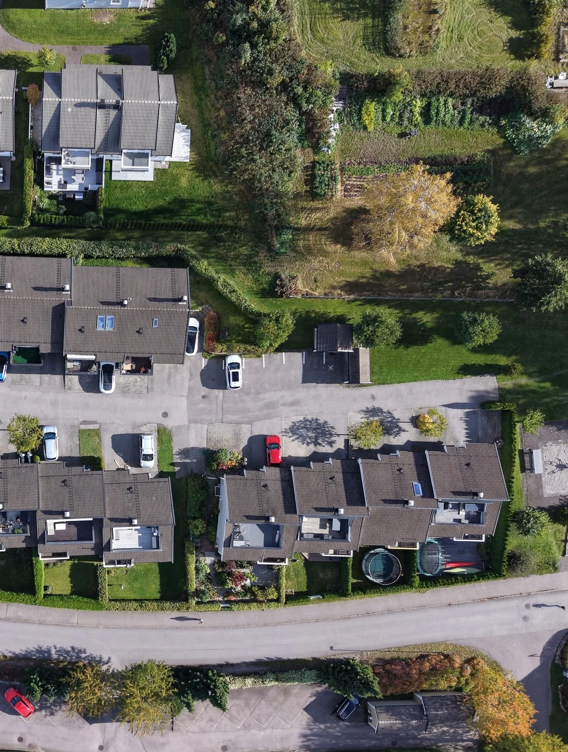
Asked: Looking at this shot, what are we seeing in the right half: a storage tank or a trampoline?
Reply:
trampoline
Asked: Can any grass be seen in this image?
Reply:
Yes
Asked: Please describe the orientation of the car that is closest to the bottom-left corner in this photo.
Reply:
diagonally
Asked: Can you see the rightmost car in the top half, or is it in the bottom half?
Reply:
bottom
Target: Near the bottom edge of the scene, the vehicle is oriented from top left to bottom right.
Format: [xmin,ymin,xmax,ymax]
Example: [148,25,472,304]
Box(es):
[6,687,33,719]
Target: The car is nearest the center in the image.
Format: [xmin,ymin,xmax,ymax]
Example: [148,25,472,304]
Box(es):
[225,355,241,390]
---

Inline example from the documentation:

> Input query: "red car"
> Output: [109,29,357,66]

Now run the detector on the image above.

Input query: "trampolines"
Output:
[363,551,401,586]
[417,540,446,575]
